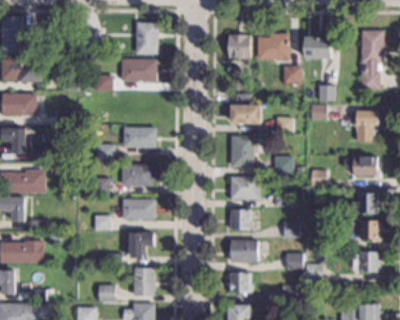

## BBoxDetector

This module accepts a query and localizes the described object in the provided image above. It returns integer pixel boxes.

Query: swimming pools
[31,272,45,286]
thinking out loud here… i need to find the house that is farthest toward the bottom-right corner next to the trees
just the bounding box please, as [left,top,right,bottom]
[359,304,382,320]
